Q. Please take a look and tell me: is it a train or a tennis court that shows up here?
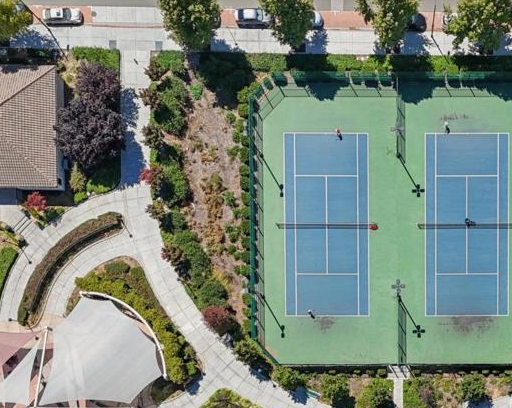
tennis court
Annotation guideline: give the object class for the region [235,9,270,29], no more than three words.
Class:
car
